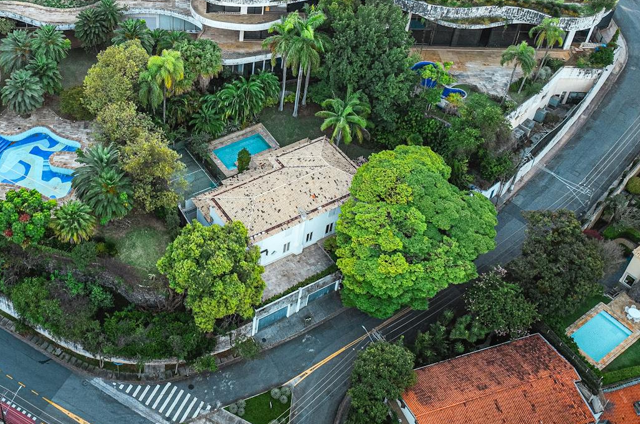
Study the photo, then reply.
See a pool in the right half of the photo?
Yes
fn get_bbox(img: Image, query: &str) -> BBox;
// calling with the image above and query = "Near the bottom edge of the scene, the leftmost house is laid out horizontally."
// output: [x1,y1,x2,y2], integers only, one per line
[397,333,599,424]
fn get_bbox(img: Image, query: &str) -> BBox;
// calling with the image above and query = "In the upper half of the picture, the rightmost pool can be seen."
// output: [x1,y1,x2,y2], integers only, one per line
[205,123,279,179]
